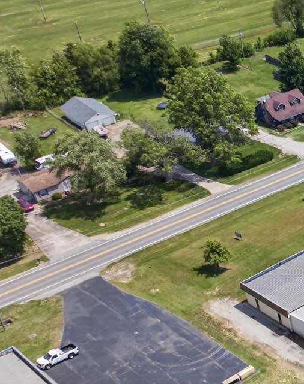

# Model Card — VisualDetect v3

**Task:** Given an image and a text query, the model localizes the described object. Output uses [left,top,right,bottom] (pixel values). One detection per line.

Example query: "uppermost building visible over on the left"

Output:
[67,92,123,131]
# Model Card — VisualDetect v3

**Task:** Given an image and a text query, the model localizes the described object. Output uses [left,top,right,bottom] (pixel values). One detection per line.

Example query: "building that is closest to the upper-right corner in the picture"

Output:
[250,89,304,128]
